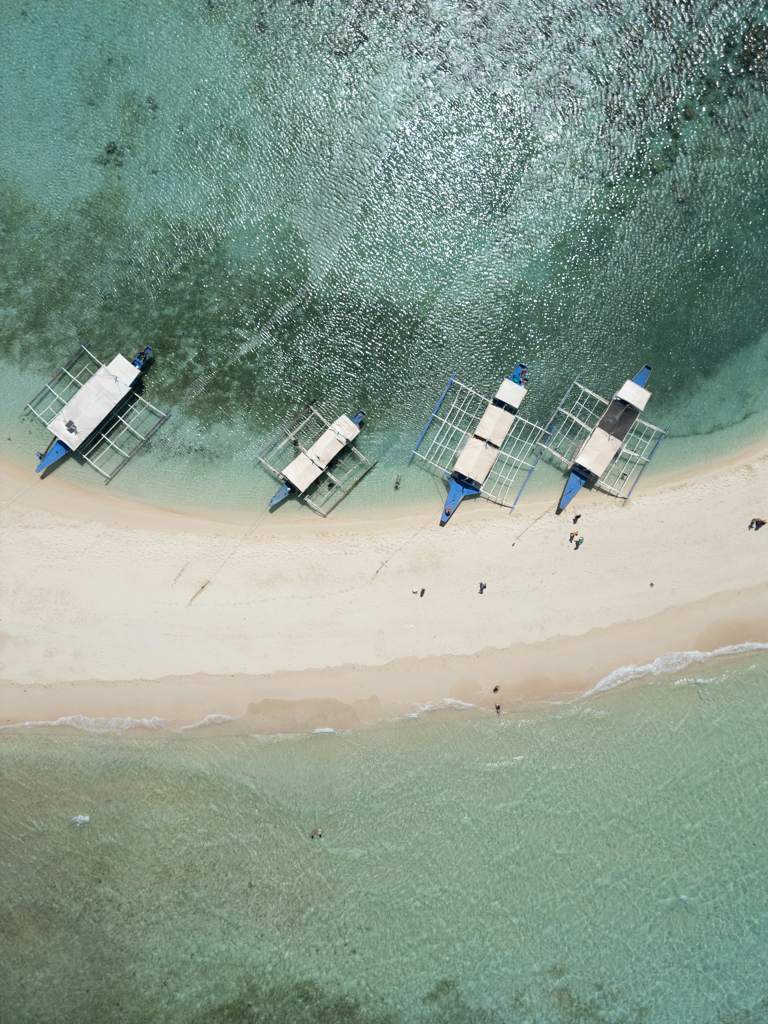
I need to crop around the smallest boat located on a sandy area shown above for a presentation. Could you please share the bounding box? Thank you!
[252,400,378,518]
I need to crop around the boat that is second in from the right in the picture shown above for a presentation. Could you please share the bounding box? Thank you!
[410,363,556,523]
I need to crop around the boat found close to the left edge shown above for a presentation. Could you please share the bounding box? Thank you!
[24,340,170,482]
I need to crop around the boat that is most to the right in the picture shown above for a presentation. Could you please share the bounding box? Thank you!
[533,364,670,511]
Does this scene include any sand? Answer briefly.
Yes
